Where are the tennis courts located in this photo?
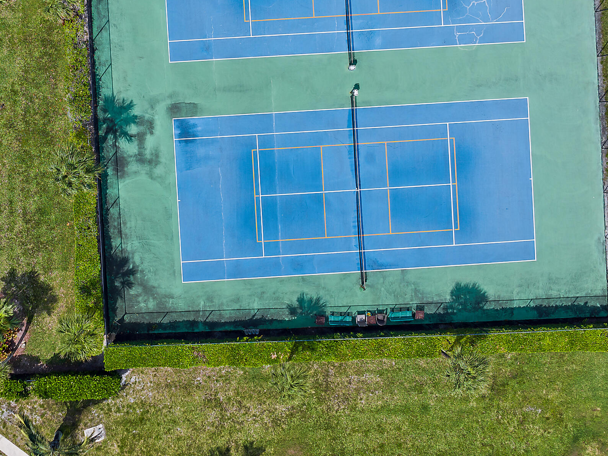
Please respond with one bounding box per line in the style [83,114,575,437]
[172,96,537,283]
[166,0,526,63]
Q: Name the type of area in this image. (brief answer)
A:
sports ground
